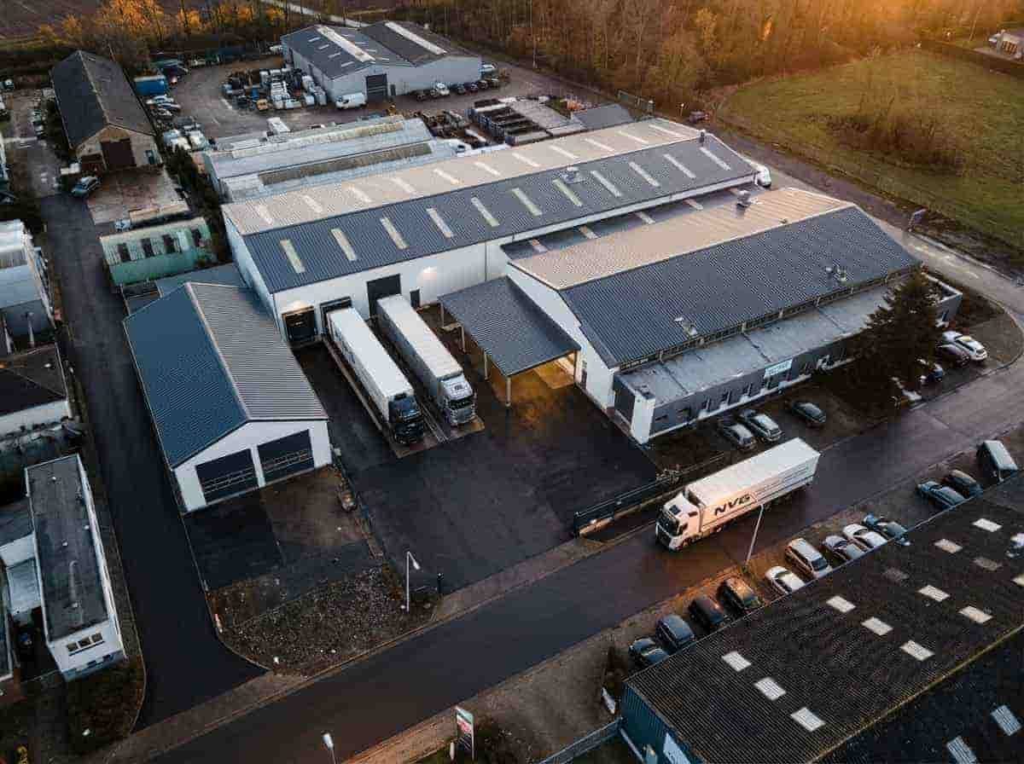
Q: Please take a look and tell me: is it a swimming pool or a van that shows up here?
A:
van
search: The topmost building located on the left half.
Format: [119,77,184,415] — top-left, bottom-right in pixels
[268,3,477,103]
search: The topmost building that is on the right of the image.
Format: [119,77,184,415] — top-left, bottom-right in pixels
[984,22,1024,57]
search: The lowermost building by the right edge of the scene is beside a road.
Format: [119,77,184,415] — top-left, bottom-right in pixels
[615,482,1024,764]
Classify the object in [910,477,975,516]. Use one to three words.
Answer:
car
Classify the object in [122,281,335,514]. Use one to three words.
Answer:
building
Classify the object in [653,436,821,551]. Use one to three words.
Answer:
truck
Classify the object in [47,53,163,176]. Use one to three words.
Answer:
barn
